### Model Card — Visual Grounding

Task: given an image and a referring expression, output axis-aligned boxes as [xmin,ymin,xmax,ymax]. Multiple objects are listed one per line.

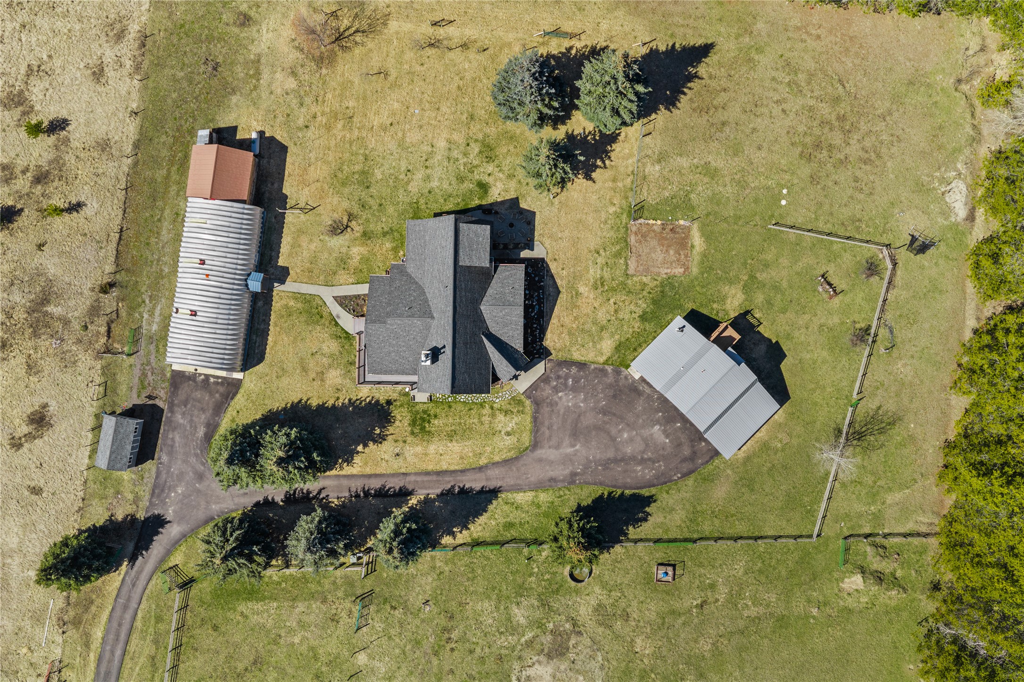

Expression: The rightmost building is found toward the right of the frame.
[633,315,780,458]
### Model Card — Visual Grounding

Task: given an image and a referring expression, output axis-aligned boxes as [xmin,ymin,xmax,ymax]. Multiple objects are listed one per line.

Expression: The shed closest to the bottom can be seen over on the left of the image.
[94,414,143,472]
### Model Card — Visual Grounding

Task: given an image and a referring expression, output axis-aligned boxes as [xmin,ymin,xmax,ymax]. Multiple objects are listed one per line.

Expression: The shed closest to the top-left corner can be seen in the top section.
[189,143,269,204]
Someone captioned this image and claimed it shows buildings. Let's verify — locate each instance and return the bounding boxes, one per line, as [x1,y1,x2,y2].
[163,197,268,373]
[94,414,143,472]
[366,214,529,394]
[633,315,780,458]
